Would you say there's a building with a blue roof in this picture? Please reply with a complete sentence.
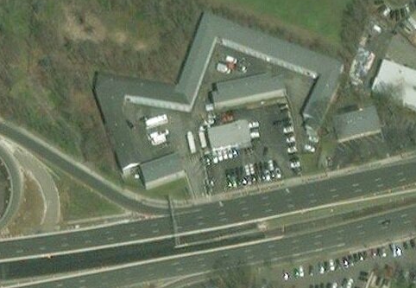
No, I can see no building with a blue roof in this picture.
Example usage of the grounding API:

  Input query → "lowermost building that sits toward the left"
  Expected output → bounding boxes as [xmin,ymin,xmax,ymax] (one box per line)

[140,152,185,187]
